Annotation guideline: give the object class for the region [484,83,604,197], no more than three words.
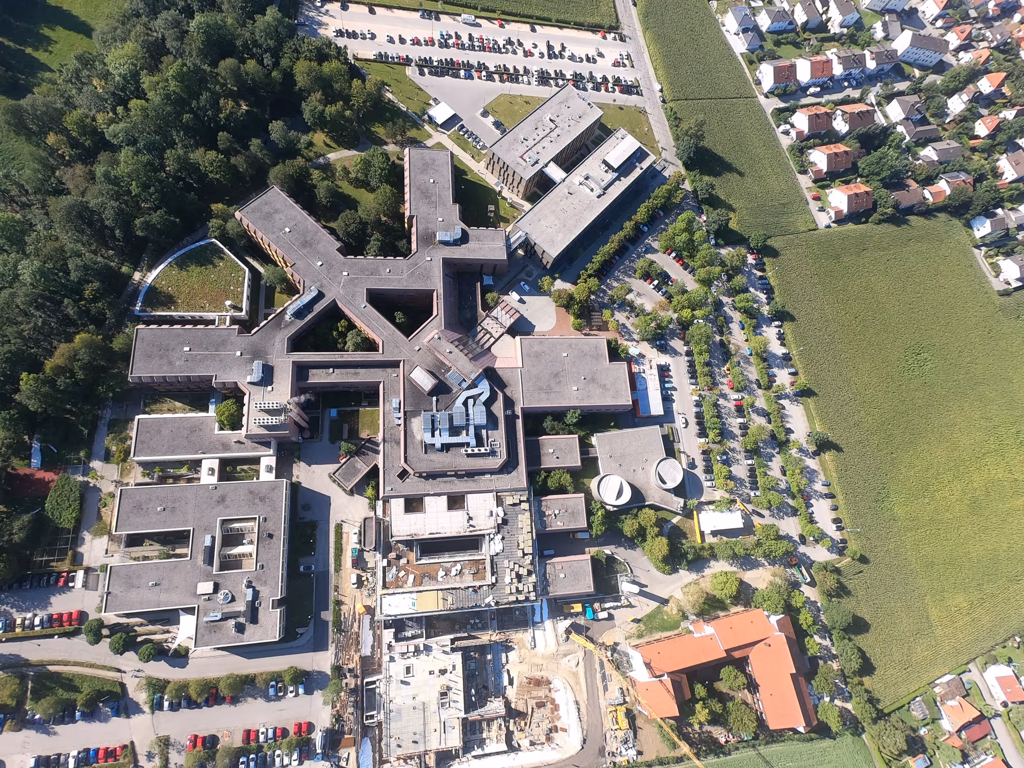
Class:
building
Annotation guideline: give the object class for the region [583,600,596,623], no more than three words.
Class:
vehicle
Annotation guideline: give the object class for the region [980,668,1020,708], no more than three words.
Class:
house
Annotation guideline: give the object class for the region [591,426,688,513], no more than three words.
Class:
building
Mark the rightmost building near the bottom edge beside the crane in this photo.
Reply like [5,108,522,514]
[623,608,815,730]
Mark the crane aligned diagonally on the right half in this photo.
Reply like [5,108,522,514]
[566,627,705,768]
